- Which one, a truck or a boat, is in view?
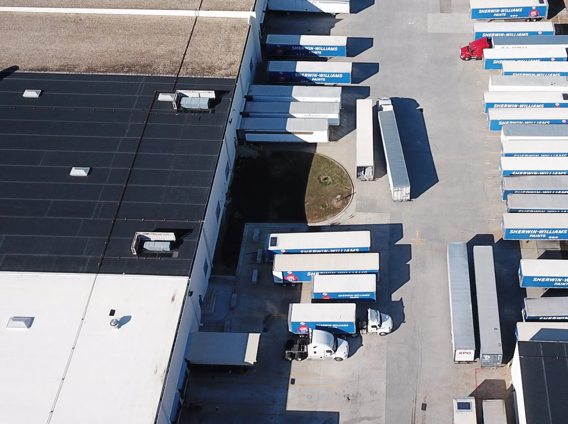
truck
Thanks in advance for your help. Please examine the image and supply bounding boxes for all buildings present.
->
[513,341,568,424]
[0,0,268,424]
